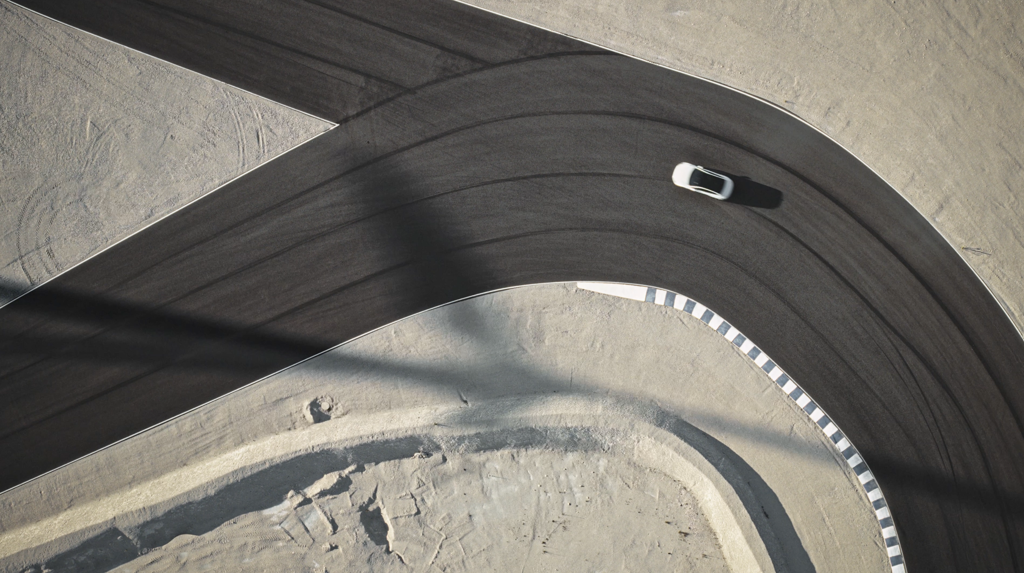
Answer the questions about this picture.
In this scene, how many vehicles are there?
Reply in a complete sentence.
In total, 1 vehicle can be seen.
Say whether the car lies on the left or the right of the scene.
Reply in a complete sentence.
You can find the car on the right side of the picture.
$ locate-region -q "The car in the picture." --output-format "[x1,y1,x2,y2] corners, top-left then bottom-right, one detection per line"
[671,163,734,201]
